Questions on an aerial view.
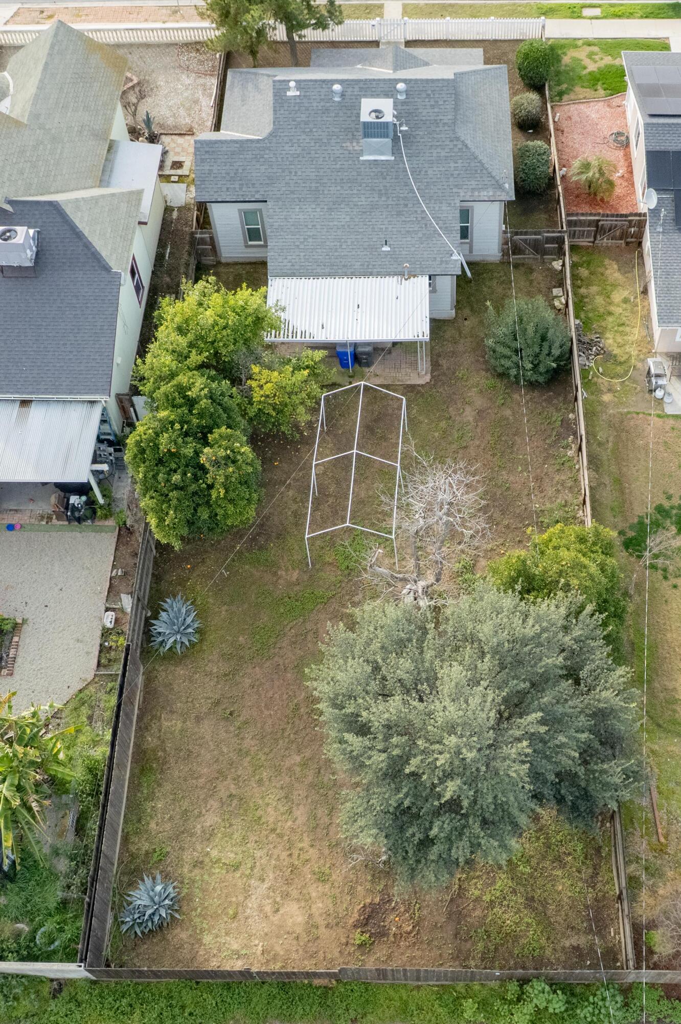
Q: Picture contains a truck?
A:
No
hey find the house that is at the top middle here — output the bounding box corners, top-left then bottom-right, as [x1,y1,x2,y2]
[192,47,517,319]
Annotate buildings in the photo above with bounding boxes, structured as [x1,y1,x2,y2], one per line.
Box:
[192,47,517,319]
[617,51,681,353]
[0,19,165,431]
